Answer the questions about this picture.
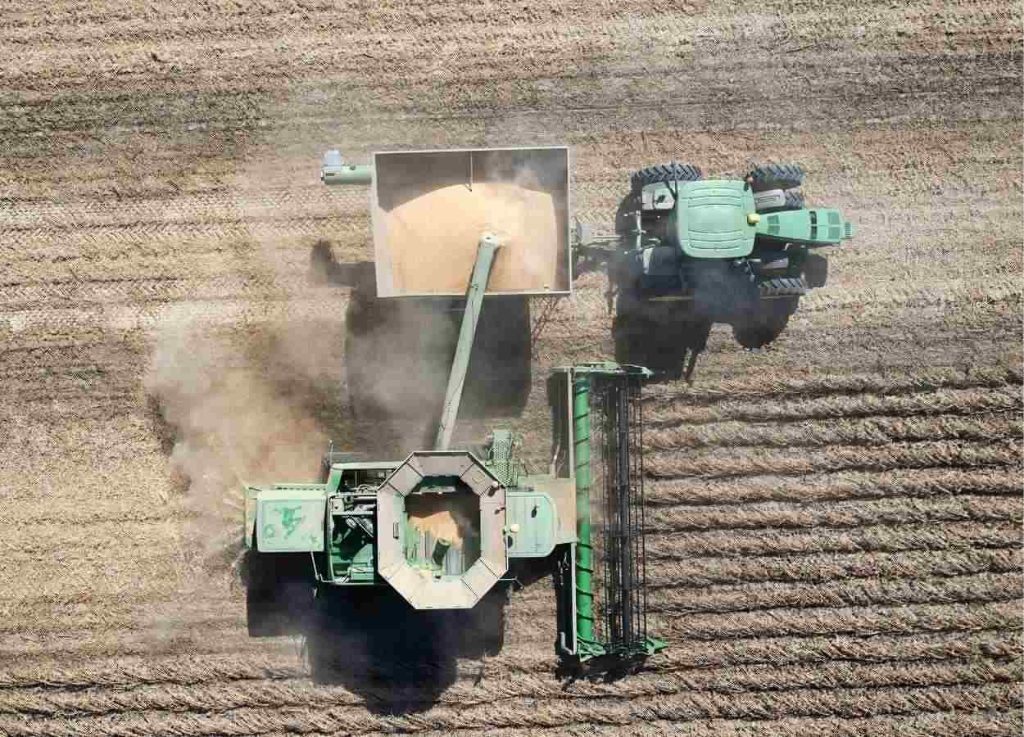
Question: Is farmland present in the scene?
Yes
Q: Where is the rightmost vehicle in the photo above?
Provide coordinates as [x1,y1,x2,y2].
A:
[616,157,855,305]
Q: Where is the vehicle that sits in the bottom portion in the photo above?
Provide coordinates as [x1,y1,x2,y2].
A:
[249,232,660,658]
